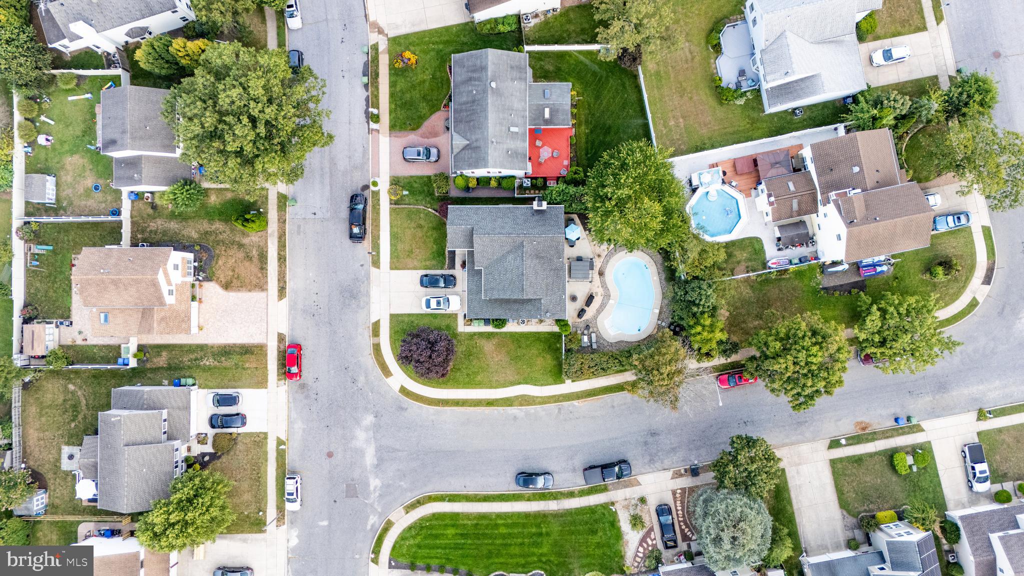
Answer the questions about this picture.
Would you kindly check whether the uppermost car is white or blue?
white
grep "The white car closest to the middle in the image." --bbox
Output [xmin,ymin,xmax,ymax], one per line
[421,294,461,312]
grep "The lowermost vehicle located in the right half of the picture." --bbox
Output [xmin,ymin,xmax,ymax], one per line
[656,503,679,551]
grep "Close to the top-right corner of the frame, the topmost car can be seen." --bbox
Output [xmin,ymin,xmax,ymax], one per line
[870,45,912,67]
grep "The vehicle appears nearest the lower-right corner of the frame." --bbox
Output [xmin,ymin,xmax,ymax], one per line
[963,442,991,492]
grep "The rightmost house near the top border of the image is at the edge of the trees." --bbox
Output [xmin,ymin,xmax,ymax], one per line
[738,0,883,114]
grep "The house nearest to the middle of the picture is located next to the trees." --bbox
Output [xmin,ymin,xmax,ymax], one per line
[445,199,568,319]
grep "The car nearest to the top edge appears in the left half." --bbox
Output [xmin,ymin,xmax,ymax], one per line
[284,0,304,31]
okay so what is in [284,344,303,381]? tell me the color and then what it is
red car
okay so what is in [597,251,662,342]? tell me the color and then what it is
white swimming pool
